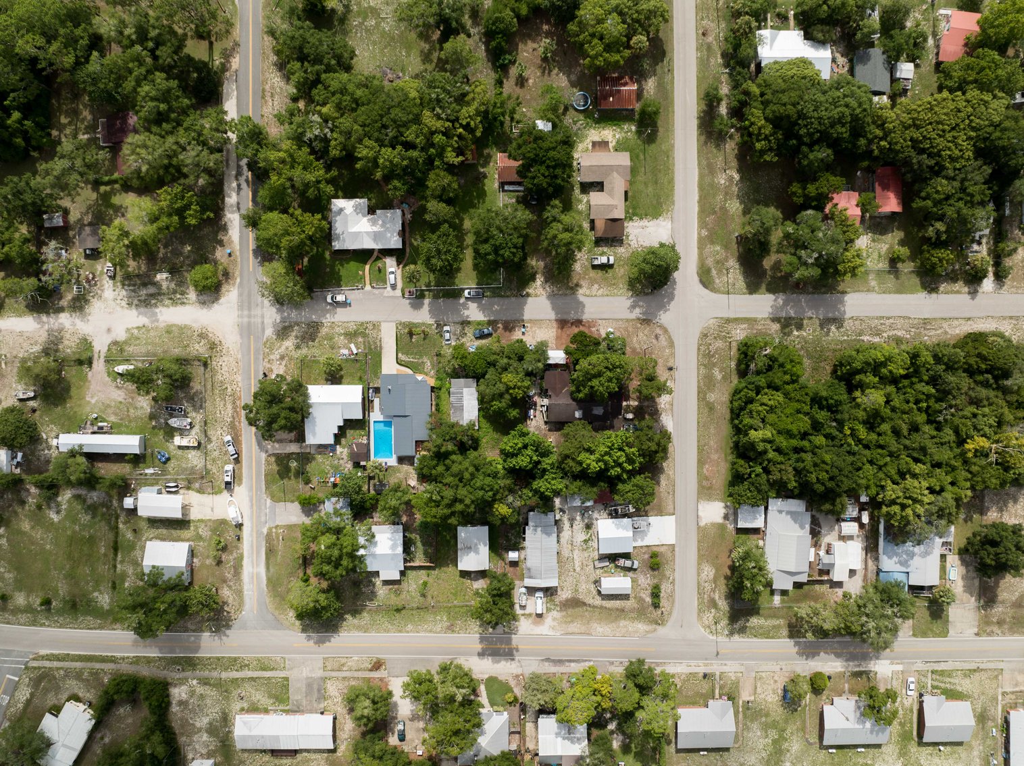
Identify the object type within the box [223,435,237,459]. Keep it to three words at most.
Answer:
car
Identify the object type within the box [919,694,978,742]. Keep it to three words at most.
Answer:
house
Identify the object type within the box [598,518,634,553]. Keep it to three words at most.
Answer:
building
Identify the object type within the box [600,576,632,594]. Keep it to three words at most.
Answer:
shed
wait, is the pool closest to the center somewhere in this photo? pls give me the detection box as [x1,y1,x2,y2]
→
[372,420,394,460]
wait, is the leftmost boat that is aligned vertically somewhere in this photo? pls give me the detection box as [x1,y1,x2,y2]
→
[229,497,241,528]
